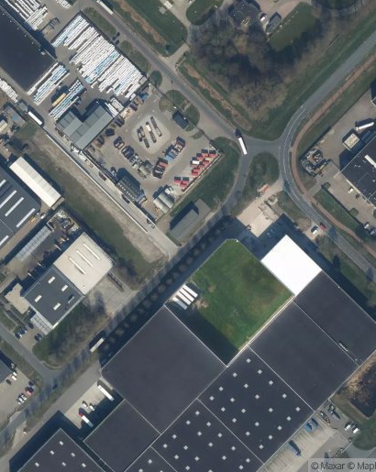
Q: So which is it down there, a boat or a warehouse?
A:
warehouse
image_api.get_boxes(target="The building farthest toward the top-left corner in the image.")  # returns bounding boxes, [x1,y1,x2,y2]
[0,7,56,92]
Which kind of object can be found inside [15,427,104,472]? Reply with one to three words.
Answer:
building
